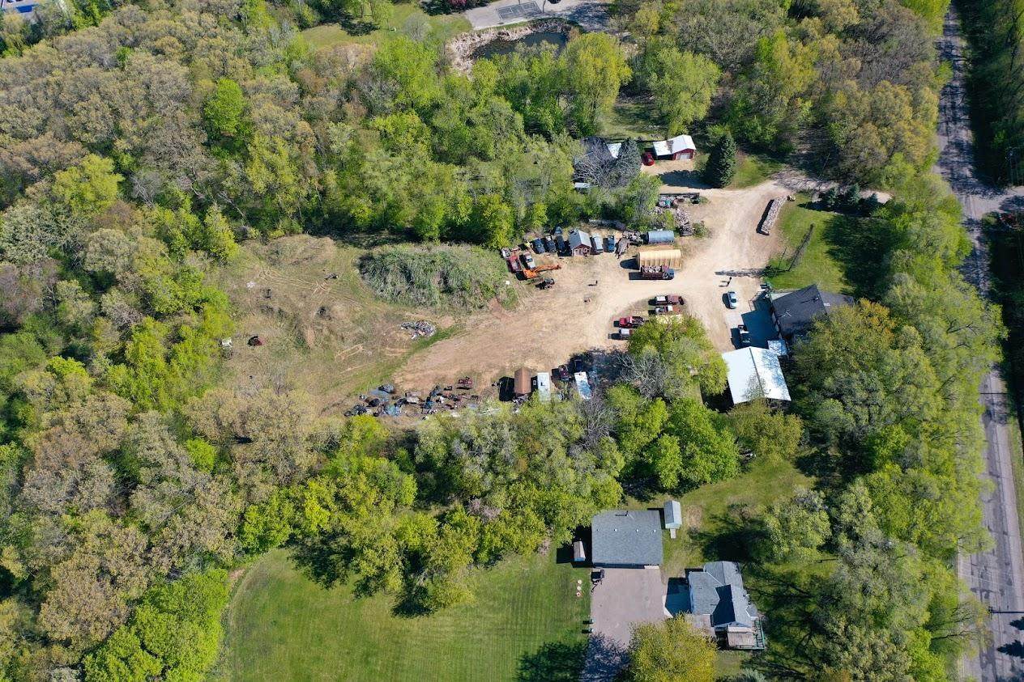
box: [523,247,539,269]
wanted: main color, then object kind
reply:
white vehicle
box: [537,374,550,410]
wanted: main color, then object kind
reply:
white vehicle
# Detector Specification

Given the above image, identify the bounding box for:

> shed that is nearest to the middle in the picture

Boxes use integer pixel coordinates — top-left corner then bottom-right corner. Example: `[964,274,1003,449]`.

[514,367,533,398]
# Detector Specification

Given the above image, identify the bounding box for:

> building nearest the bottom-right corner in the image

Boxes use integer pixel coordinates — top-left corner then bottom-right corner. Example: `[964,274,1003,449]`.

[687,562,758,628]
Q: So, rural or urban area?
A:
rural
